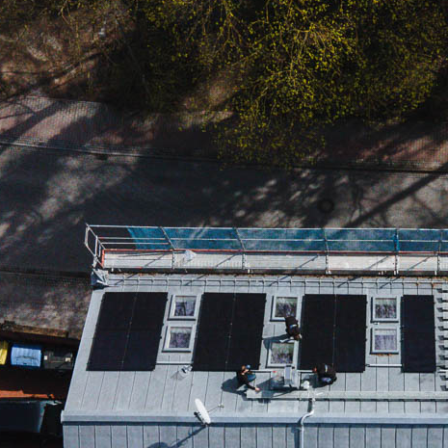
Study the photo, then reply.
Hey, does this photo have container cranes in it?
No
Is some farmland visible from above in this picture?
No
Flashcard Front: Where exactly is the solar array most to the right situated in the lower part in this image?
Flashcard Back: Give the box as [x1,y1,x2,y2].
[401,295,436,372]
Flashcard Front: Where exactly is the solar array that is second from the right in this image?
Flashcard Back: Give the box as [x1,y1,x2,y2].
[298,295,368,372]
